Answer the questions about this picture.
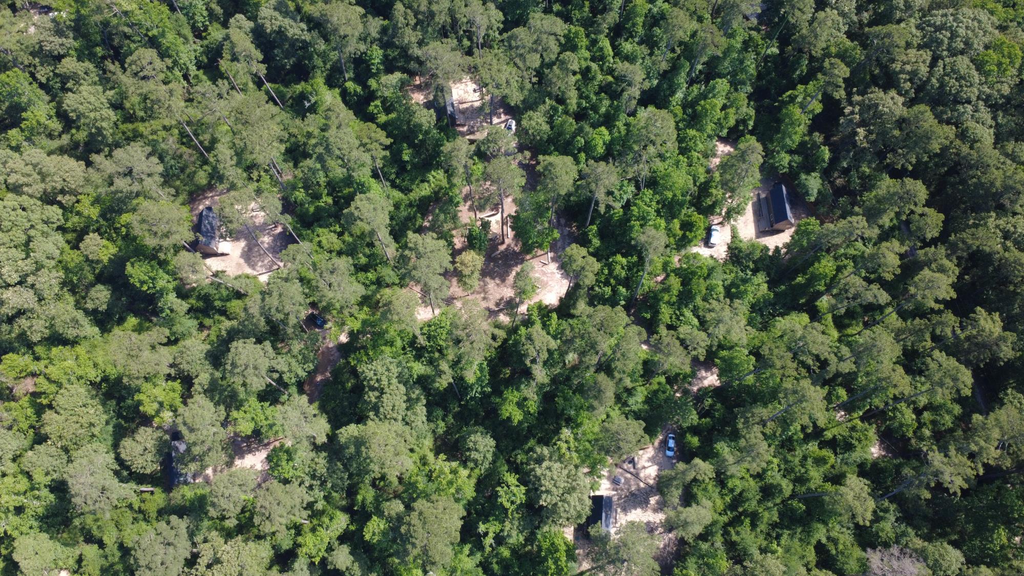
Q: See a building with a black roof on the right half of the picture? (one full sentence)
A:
Yes, I can see a building with a black roof on the right half of the picture.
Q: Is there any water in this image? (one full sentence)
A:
No, the scene doesn't show any water.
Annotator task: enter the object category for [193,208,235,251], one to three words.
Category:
building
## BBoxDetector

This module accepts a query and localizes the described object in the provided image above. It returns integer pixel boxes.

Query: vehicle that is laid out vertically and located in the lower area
[664,431,677,459]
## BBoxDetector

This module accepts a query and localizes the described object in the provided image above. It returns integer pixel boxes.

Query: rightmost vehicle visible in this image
[707,225,721,248]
